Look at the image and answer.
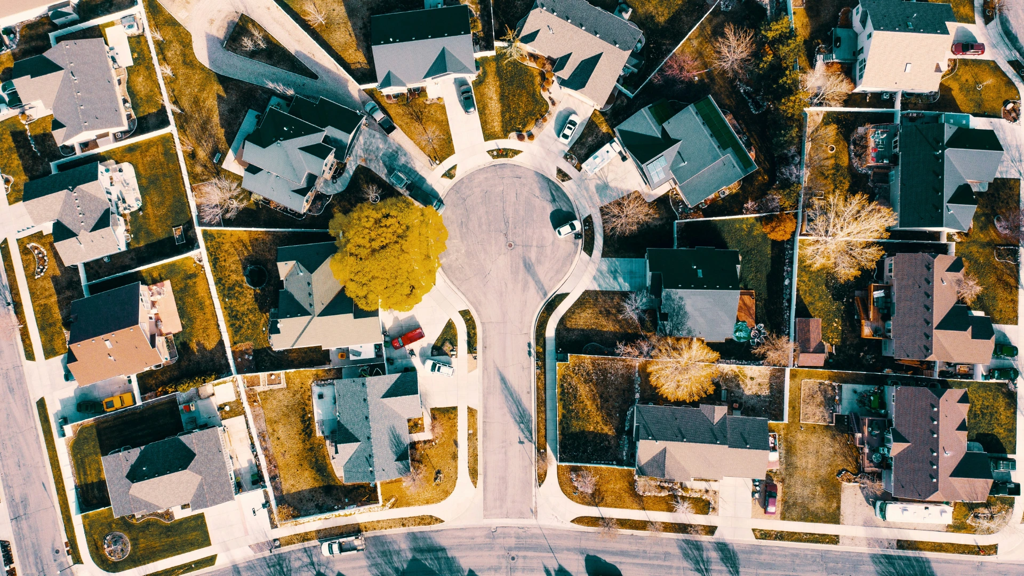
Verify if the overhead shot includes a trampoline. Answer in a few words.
Yes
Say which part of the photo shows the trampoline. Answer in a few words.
left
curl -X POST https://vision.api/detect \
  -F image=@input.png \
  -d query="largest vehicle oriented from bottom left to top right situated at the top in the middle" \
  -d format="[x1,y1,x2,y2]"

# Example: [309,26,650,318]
[586,139,625,172]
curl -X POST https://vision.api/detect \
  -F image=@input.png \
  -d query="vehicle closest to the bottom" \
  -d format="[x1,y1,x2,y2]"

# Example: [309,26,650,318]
[321,538,364,557]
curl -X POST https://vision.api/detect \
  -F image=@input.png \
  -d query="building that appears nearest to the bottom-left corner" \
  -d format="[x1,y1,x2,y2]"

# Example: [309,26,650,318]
[101,426,238,518]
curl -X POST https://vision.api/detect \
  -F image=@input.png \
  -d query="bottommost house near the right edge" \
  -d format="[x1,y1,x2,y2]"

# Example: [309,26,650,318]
[885,384,994,502]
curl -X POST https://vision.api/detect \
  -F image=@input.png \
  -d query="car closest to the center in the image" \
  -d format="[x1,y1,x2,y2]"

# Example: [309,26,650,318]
[555,220,582,239]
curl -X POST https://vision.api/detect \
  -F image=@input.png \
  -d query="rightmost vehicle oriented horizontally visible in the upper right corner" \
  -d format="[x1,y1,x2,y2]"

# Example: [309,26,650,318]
[954,40,987,55]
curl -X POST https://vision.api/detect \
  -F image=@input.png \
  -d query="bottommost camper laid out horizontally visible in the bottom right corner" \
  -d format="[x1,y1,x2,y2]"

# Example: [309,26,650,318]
[877,504,962,526]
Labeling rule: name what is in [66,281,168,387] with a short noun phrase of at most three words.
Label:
house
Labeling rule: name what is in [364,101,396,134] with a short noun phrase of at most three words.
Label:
truck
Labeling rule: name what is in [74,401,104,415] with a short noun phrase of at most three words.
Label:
car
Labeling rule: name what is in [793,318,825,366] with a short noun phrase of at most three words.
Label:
shed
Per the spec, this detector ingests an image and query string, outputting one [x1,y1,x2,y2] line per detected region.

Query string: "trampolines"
[239,263,268,289]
